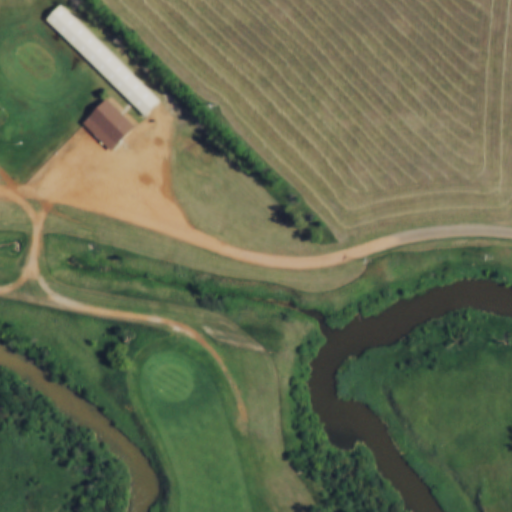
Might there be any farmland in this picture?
Yes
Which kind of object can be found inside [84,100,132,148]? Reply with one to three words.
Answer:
barn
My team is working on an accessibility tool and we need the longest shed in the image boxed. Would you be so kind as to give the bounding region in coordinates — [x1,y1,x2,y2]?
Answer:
[46,4,160,116]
